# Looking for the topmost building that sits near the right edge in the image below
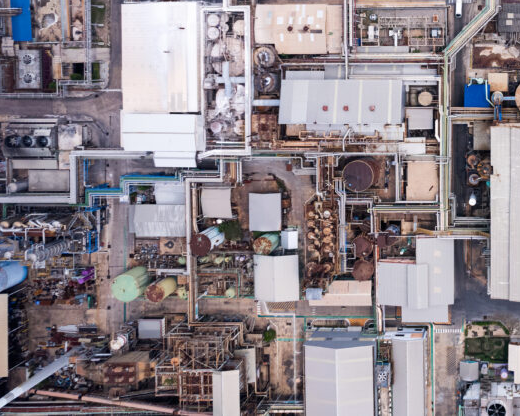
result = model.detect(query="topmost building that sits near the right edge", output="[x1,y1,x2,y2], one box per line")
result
[498,3,520,33]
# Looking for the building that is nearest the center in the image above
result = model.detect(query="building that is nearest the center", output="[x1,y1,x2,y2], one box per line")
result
[249,191,288,231]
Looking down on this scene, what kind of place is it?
industrial area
